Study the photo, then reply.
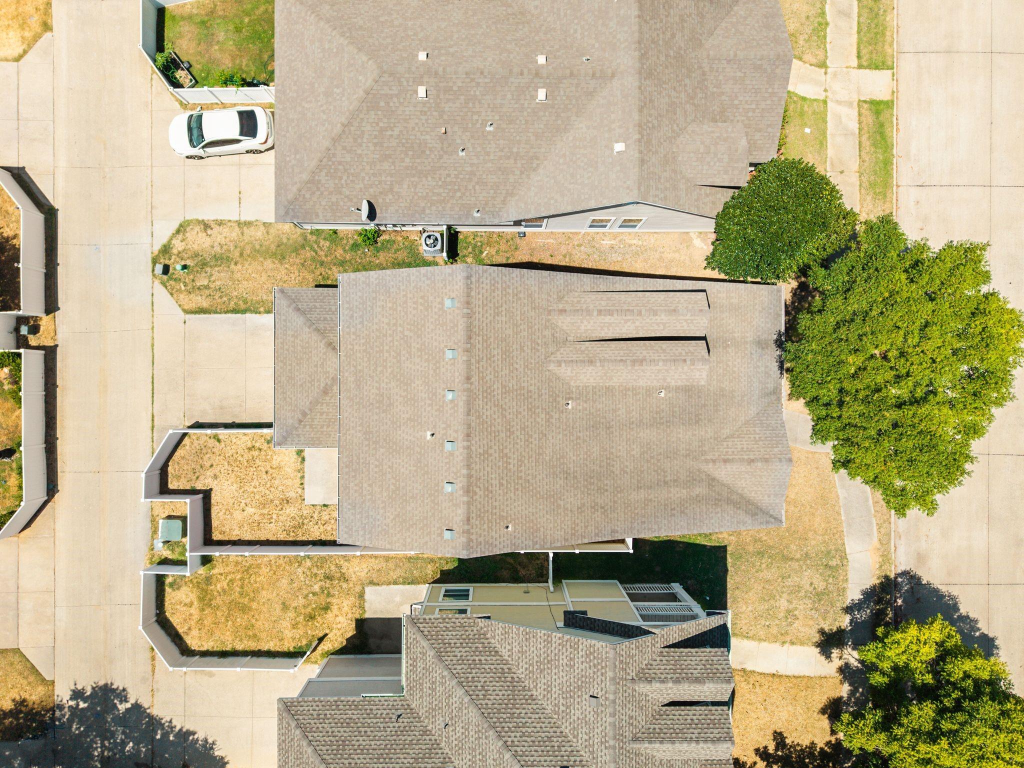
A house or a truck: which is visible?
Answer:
house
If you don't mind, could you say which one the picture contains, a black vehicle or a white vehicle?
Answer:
white vehicle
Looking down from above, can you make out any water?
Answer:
No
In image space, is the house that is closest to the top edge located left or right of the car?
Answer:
right of it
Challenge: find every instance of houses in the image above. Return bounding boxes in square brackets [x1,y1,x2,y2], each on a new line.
[273,0,794,233]
[273,264,794,559]
[275,578,735,768]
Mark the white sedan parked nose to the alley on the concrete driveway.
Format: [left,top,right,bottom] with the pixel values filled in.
[168,109,274,162]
